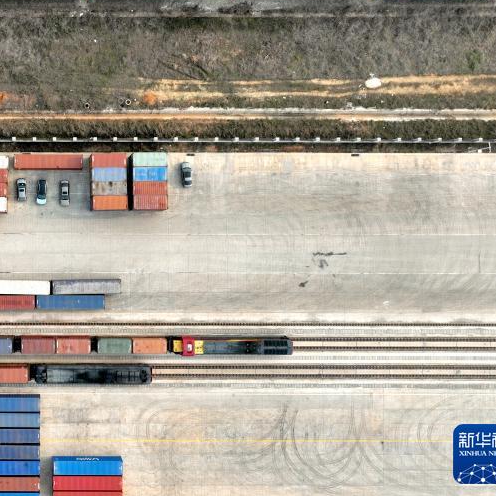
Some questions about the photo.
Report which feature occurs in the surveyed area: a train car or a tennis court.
train car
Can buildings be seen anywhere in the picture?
No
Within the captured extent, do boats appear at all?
No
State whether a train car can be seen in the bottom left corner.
Yes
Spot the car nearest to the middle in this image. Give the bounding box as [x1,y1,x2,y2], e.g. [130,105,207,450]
[180,162,193,187]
